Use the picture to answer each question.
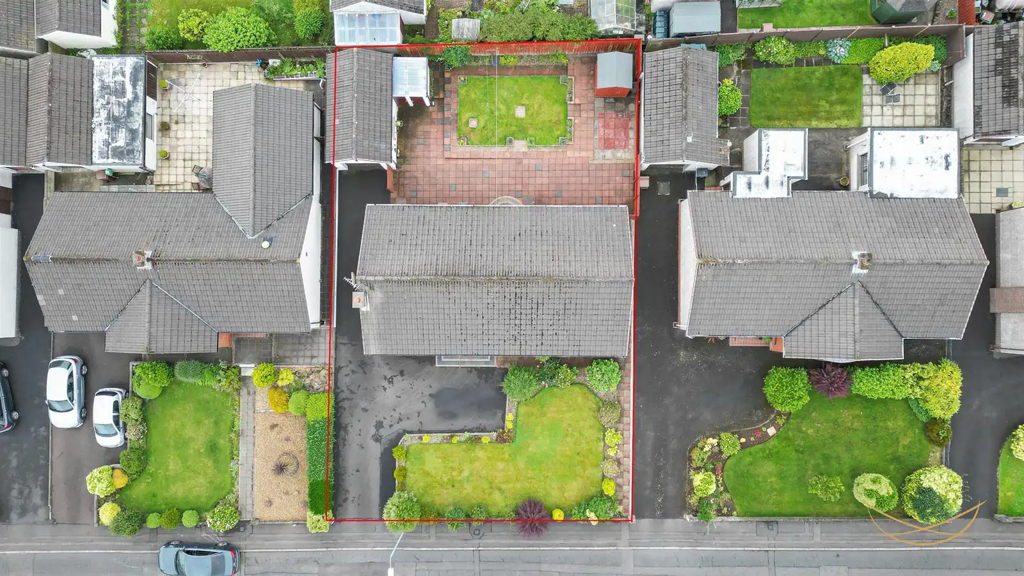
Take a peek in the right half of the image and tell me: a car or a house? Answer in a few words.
house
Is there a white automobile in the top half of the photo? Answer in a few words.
No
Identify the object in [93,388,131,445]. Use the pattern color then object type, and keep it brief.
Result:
white car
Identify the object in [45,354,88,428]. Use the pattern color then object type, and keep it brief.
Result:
white car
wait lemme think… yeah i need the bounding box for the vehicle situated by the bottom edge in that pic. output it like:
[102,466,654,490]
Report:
[159,541,239,576]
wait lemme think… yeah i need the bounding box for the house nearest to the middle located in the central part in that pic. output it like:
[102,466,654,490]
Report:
[351,203,635,366]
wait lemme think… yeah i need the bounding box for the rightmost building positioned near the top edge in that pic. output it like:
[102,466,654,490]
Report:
[954,18,1024,147]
